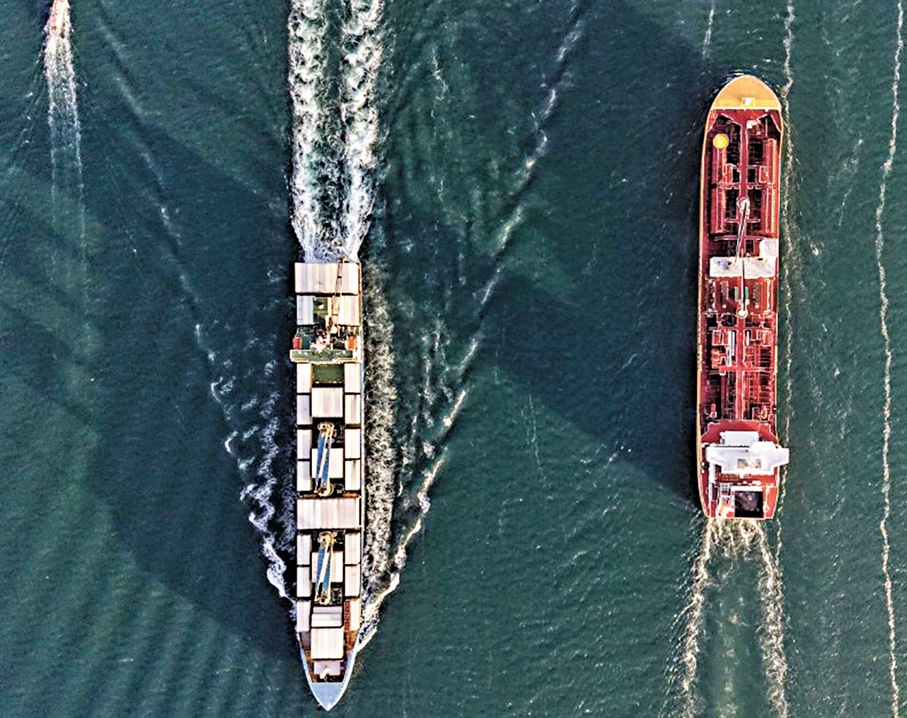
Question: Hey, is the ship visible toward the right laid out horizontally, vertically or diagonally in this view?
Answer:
vertically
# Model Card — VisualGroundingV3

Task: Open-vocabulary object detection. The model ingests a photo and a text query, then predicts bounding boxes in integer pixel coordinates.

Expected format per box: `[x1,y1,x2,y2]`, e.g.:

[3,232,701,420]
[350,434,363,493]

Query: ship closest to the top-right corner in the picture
[697,74,789,518]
